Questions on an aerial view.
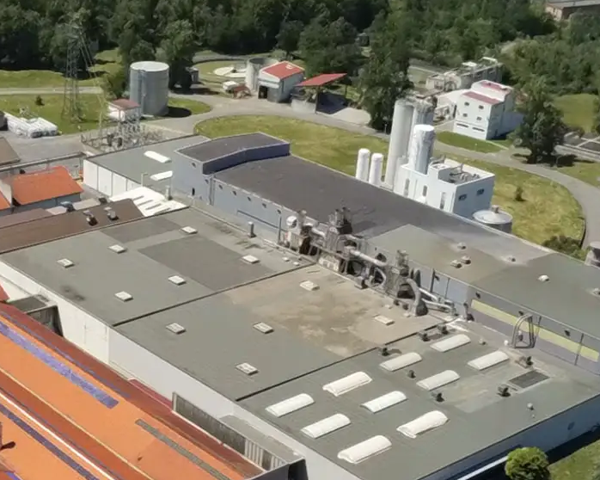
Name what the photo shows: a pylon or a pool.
pylon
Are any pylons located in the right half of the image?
No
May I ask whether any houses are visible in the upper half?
Yes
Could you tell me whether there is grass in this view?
Yes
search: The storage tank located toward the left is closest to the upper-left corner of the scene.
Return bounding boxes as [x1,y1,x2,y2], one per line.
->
[130,62,170,113]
